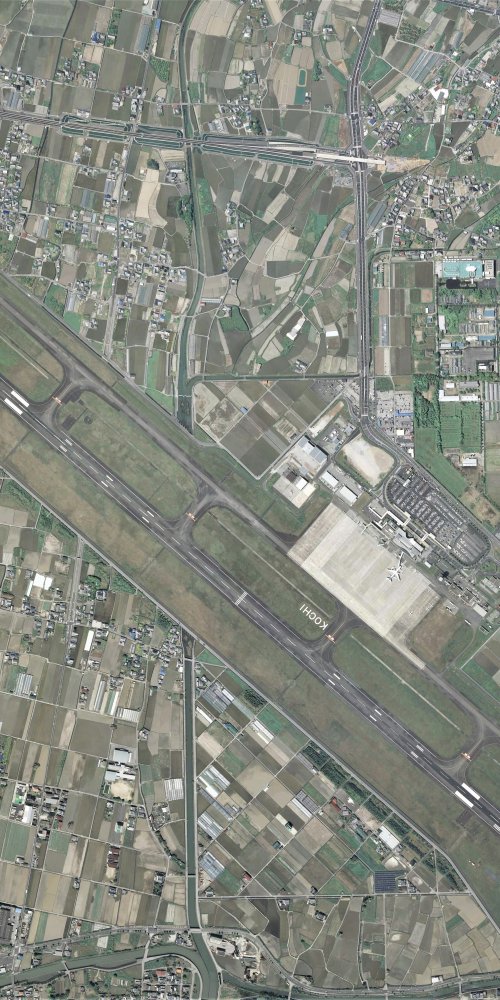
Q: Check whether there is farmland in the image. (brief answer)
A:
Yes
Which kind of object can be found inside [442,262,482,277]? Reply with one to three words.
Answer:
building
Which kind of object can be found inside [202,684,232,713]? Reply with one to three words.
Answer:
greenhouse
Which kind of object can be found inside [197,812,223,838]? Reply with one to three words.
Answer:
greenhouse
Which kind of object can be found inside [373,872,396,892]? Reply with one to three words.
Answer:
solar array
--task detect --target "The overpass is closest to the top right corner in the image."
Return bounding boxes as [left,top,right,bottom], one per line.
[268,145,388,164]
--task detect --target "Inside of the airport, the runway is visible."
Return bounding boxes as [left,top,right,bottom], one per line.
[0,378,500,835]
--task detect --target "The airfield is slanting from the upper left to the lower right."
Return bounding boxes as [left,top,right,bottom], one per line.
[0,273,500,928]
